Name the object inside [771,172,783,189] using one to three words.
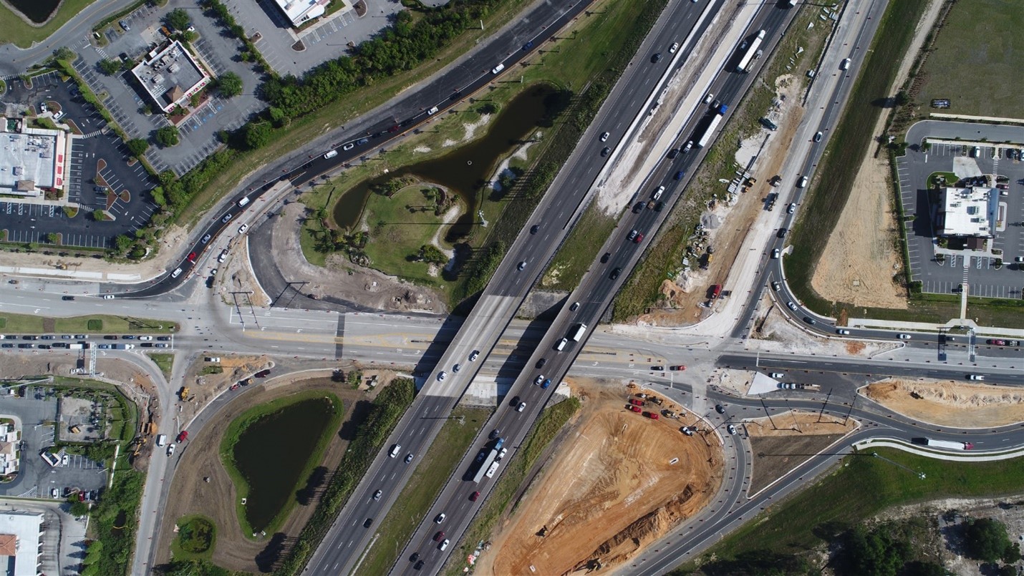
vehicle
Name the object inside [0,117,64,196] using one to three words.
building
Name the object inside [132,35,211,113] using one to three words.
building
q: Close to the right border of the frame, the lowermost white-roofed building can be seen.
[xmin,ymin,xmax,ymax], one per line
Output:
[934,174,999,249]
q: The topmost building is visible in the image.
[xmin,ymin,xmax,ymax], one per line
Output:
[276,0,335,29]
